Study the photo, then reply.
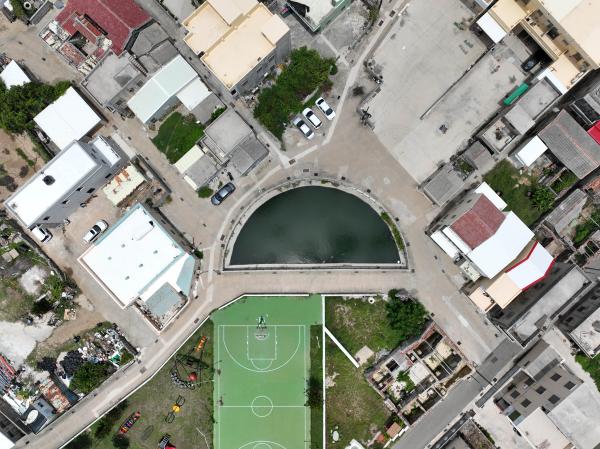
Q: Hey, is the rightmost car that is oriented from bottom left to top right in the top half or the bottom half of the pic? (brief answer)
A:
top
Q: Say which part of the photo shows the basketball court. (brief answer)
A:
bottom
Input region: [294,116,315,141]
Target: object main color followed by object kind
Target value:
white car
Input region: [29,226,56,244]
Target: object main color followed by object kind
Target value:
white car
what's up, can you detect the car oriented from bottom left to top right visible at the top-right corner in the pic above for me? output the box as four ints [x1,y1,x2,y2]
[516,50,544,74]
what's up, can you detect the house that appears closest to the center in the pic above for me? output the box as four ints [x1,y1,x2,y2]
[227,131,271,178]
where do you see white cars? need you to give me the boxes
[303,106,323,132]
[315,97,336,121]
[29,226,56,244]
[83,220,110,243]
[294,116,315,141]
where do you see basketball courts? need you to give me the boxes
[210,297,322,449]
